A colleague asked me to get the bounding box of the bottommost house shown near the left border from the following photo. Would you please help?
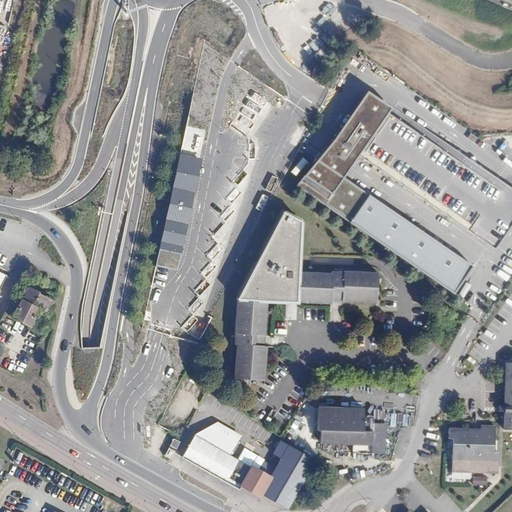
[12,286,56,328]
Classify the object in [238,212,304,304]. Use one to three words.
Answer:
building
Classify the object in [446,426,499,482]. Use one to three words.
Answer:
house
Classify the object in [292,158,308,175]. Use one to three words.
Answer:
vehicle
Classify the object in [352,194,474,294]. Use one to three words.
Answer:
building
